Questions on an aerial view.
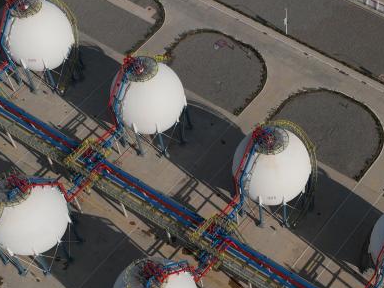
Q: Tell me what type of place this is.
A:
industrial area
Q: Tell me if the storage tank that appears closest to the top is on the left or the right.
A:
left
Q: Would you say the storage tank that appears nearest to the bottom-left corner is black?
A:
No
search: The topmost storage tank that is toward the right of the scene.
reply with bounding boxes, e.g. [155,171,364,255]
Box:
[221,119,317,226]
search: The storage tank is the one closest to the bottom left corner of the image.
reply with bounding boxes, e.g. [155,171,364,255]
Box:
[0,171,89,275]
